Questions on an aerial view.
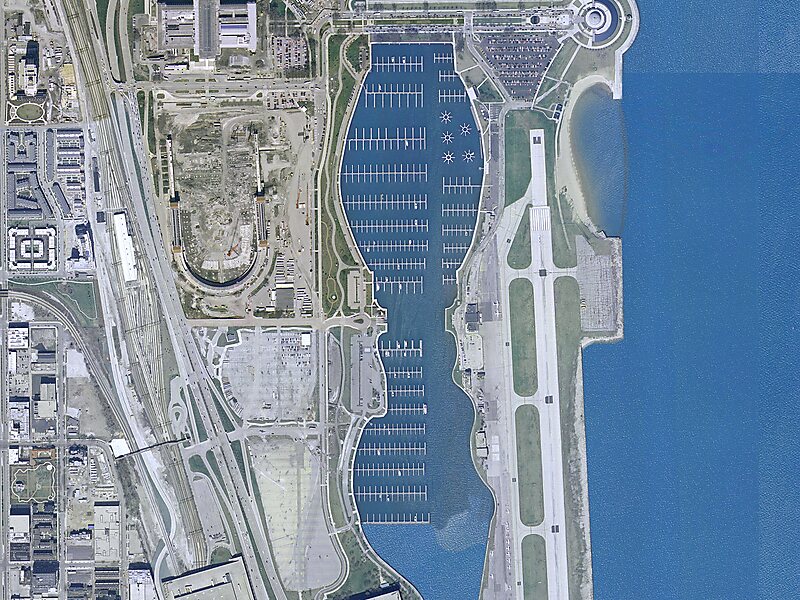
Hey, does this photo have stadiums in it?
Yes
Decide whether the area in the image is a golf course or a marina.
marina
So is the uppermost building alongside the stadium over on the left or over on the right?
left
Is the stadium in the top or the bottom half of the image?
top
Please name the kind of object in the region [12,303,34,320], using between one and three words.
building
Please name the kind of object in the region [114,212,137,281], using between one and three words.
shed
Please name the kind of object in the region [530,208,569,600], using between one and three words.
runway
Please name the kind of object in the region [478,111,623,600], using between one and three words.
airport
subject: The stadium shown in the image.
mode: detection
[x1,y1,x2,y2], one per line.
[166,106,269,300]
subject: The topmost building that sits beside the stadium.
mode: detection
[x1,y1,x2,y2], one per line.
[158,0,256,65]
